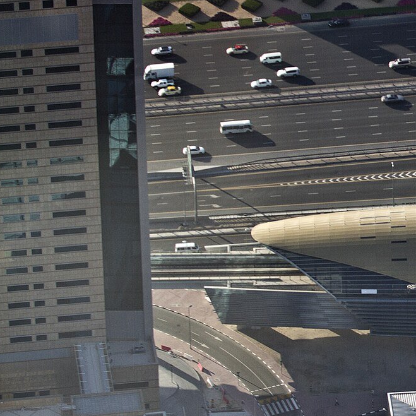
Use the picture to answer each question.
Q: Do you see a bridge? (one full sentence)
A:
Yes, a bridge is visible in the scene.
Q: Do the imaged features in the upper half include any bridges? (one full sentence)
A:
No, no bridge is visible in the upper half.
